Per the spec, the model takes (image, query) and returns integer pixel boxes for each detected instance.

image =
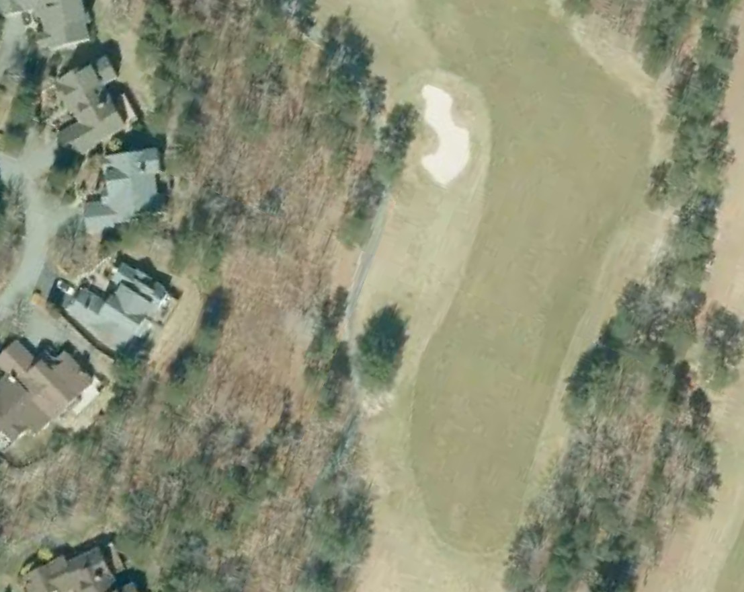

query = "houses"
[0,334,103,449]
[82,146,165,238]
[20,543,124,592]
[68,262,174,347]
[42,55,138,157]
[0,0,90,49]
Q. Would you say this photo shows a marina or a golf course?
golf course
